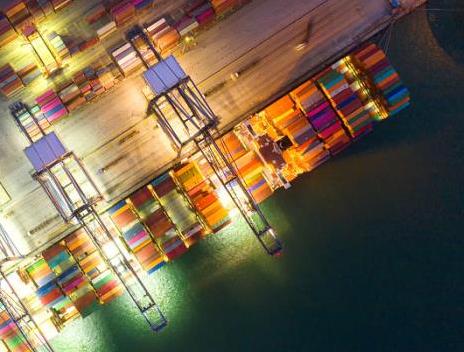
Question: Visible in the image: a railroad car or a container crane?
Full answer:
The image shows a container crane.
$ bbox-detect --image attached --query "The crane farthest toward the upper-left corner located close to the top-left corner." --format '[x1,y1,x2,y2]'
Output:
[21,25,65,80]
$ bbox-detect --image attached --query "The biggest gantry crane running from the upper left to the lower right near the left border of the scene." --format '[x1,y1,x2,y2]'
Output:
[10,104,167,332]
